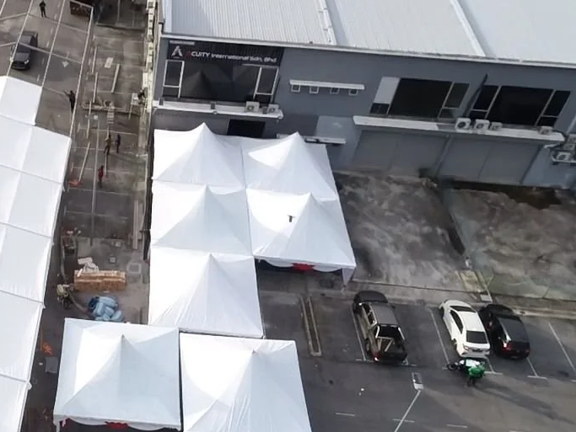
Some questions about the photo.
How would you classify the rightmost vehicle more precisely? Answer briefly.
car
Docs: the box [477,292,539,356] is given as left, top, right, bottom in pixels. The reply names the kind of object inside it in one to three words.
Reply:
car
